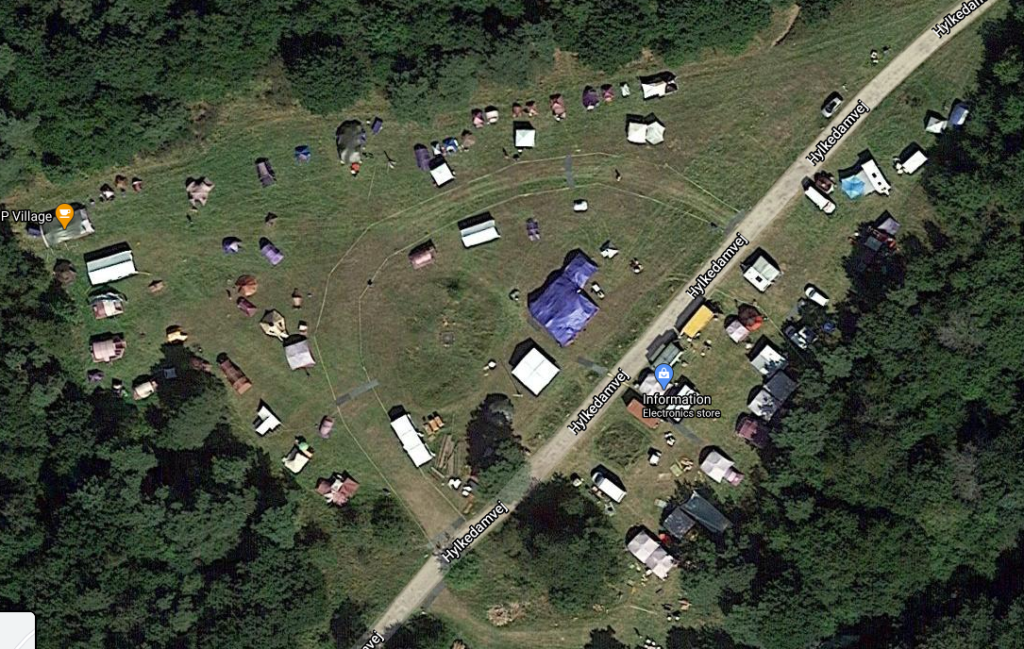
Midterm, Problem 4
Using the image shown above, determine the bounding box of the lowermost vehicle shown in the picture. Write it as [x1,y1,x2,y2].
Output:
[590,468,628,503]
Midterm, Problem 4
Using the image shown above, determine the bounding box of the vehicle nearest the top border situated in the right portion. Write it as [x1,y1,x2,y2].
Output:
[822,91,843,117]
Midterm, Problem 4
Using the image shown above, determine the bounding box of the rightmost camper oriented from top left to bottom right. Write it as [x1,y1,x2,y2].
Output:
[862,159,890,198]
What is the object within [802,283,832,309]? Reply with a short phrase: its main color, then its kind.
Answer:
white vehicle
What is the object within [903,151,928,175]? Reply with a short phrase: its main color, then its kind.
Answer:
white camper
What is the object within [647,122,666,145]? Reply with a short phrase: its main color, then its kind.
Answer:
white tent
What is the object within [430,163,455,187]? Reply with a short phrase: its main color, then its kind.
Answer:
white tent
